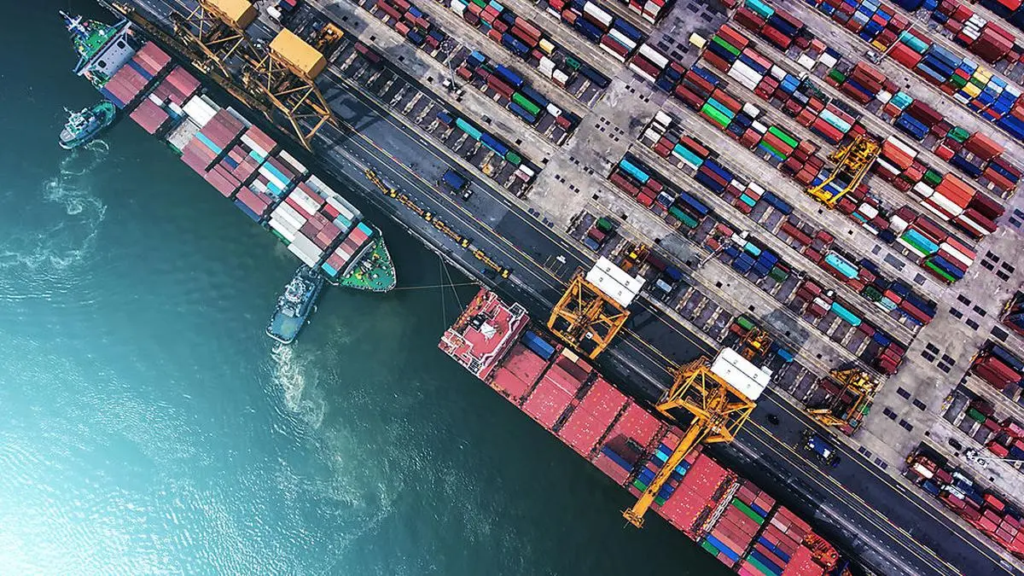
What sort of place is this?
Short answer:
port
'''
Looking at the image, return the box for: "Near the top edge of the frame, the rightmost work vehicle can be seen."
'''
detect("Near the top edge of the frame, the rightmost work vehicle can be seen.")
[310,11,344,41]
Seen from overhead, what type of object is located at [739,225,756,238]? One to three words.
vehicle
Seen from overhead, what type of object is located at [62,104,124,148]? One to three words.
boat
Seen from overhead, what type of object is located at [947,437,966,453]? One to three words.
car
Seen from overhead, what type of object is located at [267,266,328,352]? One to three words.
boat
